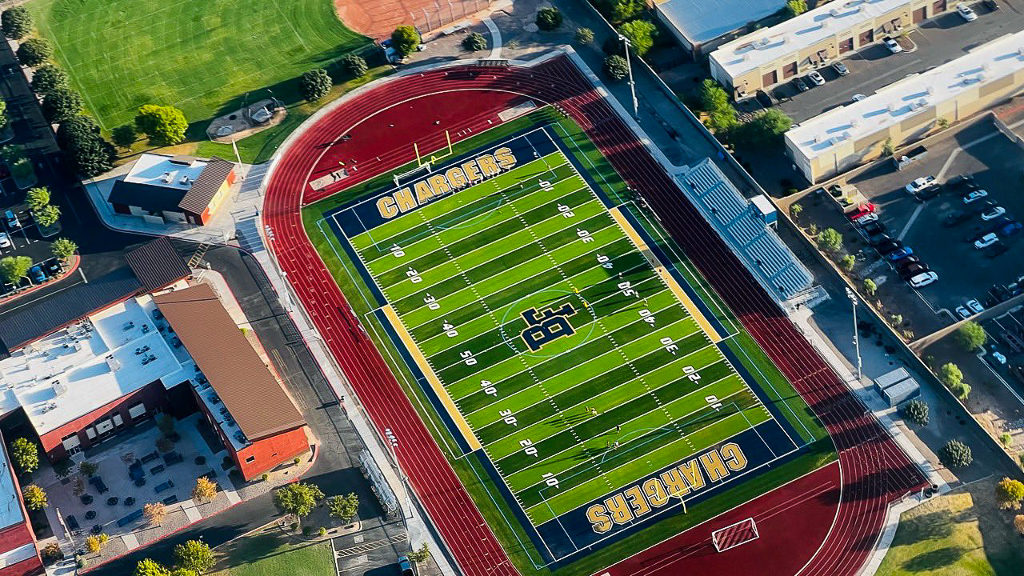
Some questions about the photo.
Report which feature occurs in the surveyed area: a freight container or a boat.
freight container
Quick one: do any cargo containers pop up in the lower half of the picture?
Yes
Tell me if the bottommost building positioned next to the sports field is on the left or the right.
left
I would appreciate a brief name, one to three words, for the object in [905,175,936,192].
vehicle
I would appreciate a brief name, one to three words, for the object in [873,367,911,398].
shipping container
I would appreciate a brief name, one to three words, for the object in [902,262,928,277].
car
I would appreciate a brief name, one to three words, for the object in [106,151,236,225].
building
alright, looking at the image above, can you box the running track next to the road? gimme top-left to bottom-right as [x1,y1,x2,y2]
[261,55,930,576]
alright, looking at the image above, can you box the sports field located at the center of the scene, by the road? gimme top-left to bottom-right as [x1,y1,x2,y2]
[301,105,839,576]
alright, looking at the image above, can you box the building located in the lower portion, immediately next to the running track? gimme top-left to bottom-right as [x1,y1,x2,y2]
[0,236,311,482]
